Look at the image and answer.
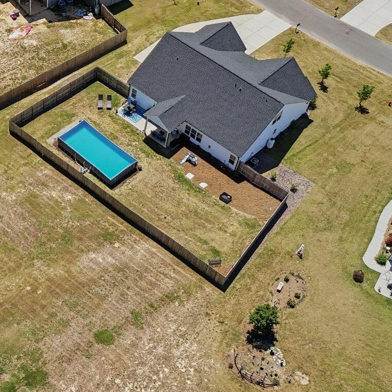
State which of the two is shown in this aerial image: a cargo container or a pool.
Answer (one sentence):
Of the two, only a pool appears.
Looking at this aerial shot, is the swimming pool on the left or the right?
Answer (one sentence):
You can find the swimming pool on the left side of the picture.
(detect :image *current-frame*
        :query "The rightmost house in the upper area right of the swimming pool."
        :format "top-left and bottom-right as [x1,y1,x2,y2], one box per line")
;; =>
[129,22,316,170]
